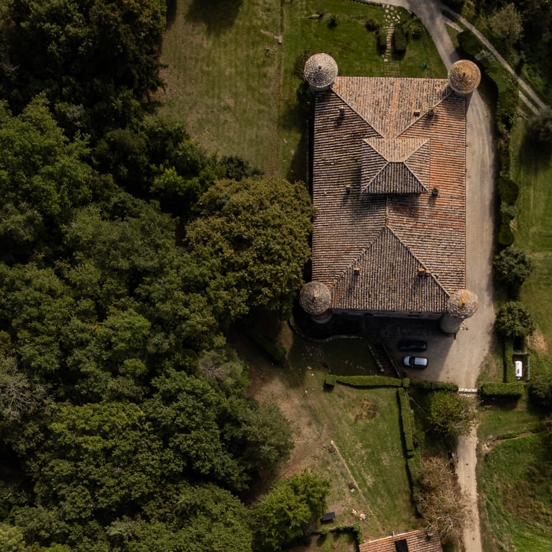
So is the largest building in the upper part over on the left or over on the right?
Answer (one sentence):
The largest building in the upper part sits on the right side.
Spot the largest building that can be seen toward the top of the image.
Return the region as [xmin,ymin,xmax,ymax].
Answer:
[299,52,482,330]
